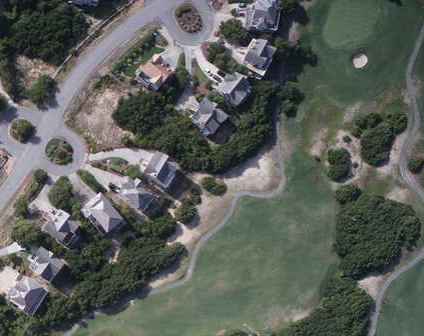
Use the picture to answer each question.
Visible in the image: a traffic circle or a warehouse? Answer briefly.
traffic circle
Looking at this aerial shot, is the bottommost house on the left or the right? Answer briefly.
left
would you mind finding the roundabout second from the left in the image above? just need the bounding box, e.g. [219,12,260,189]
[32,124,88,177]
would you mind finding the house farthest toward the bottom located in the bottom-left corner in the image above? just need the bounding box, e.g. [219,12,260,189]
[6,272,50,315]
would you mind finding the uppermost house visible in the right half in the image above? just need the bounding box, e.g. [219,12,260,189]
[243,0,283,33]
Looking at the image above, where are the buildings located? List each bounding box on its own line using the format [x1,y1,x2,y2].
[28,245,67,282]
[6,272,50,315]
[243,0,283,33]
[242,36,274,80]
[186,95,232,136]
[116,176,157,215]
[40,205,83,252]
[133,52,174,88]
[140,150,181,189]
[79,191,126,235]
[208,68,253,110]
